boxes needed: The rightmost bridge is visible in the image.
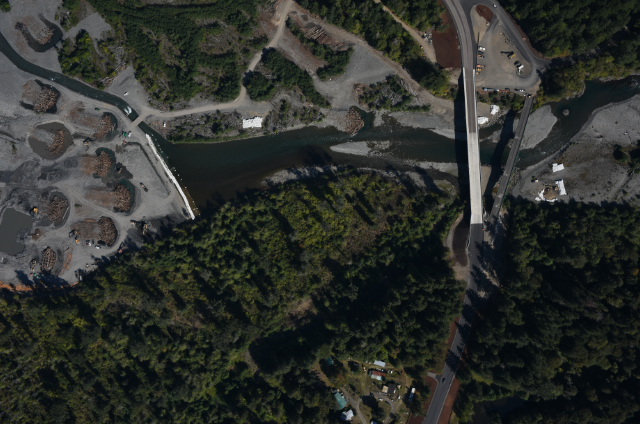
[494,91,535,208]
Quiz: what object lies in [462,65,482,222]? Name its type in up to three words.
bridge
